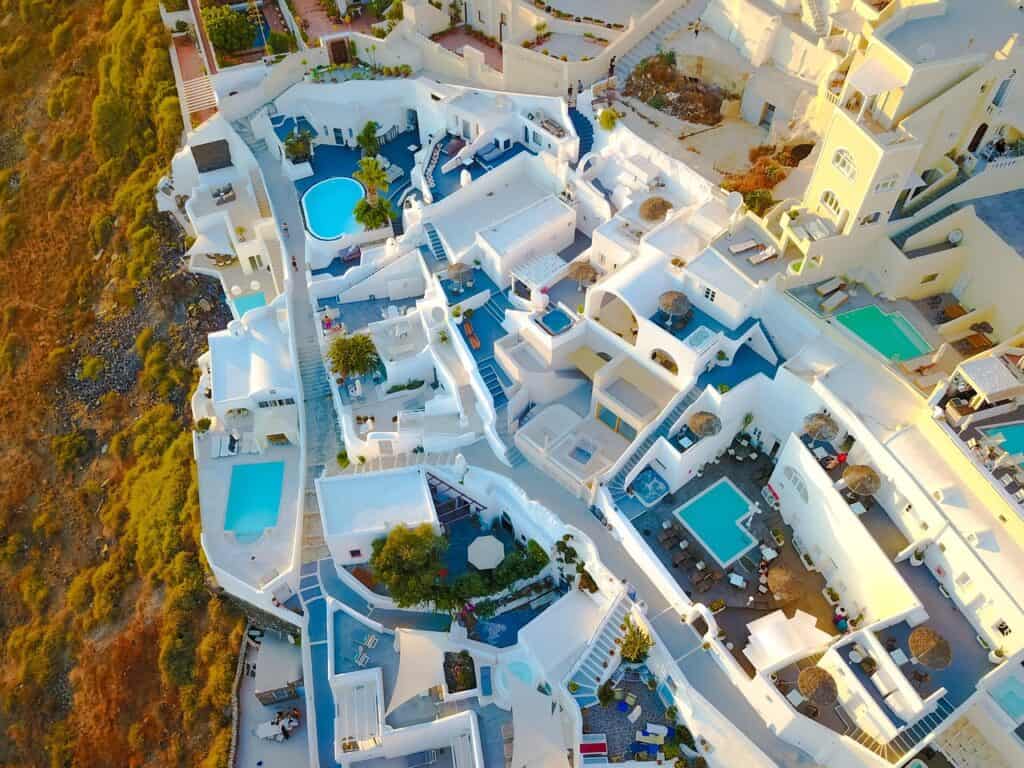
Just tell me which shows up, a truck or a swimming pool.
swimming pool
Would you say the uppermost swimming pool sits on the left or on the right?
left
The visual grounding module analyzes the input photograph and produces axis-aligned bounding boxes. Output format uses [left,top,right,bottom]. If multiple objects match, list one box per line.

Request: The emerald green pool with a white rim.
[835,304,935,361]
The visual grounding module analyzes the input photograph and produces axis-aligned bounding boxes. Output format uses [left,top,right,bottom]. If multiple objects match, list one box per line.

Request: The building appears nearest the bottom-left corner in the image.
[256,640,303,703]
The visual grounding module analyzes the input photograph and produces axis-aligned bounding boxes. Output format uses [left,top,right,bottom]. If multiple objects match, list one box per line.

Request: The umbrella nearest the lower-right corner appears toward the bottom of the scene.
[907,632,952,675]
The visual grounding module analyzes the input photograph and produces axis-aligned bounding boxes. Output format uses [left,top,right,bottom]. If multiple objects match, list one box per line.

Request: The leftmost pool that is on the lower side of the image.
[221,459,287,547]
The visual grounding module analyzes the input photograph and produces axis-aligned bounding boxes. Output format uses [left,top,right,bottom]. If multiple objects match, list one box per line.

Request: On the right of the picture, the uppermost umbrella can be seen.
[643,195,674,226]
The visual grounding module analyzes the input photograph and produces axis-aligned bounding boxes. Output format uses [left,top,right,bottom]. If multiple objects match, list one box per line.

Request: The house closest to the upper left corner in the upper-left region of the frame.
[176,116,253,215]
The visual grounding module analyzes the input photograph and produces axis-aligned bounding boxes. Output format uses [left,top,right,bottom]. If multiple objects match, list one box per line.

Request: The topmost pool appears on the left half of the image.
[302,177,365,240]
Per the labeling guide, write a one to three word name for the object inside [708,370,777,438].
house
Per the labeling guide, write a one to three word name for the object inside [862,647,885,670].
umbrella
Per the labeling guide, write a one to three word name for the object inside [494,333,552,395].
building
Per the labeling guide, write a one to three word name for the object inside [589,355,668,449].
house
